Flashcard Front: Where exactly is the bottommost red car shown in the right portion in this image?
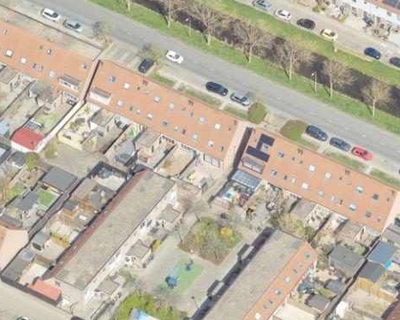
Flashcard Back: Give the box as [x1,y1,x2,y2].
[351,148,372,161]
